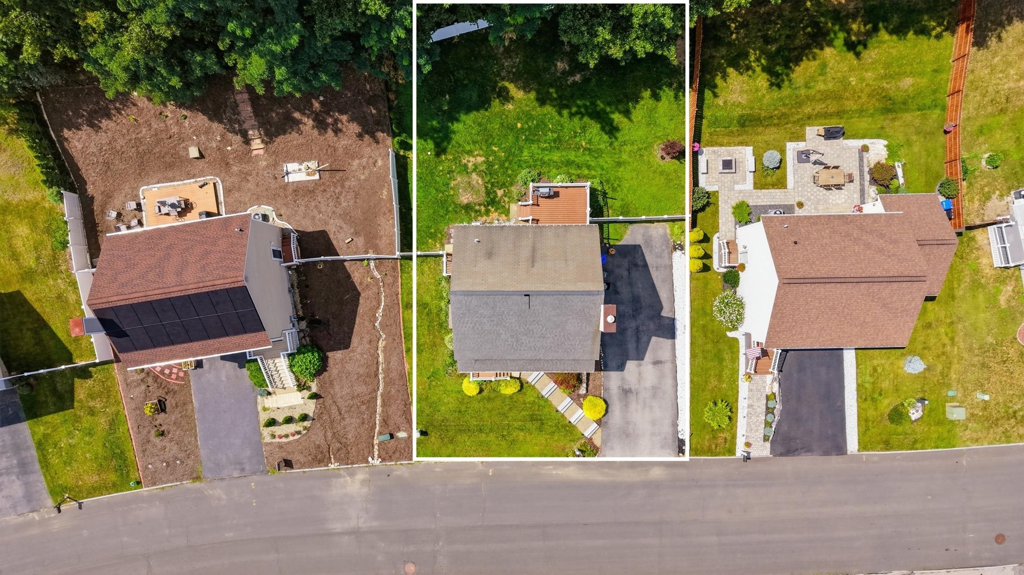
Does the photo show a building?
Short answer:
Yes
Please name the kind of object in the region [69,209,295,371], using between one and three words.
house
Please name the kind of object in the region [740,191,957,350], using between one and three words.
house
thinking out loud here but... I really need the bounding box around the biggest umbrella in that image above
[797,143,837,163]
